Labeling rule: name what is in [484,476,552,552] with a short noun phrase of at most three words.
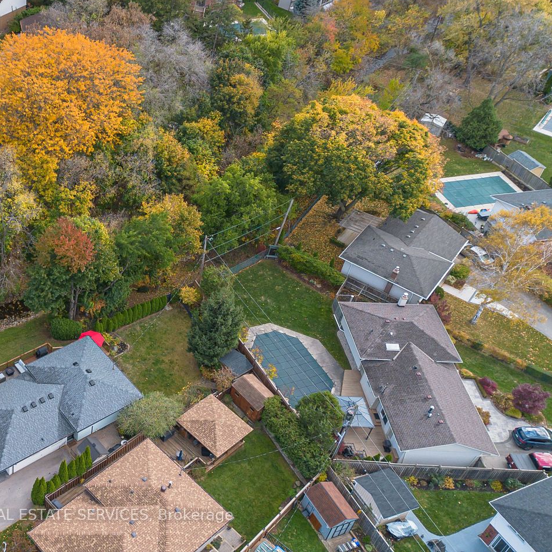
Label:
house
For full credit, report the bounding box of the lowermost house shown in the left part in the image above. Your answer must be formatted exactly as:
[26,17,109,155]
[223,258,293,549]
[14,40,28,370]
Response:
[27,438,234,552]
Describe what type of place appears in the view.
residential area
